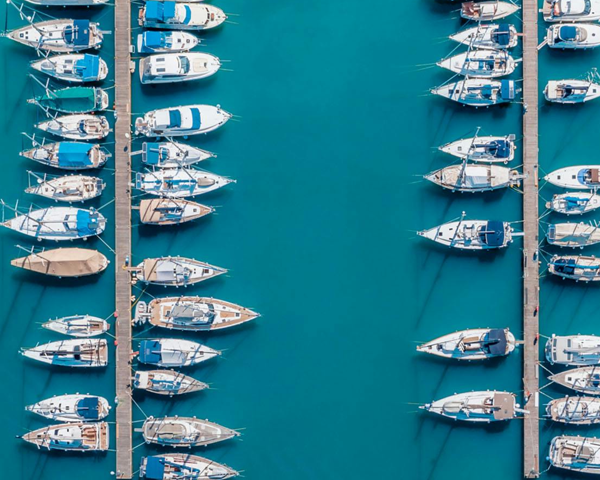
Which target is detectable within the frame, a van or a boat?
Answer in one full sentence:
The one in the frame is a boat.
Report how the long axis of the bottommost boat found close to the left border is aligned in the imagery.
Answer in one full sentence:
What the image shows is the bottommost boat found close to the left border lying from side to side.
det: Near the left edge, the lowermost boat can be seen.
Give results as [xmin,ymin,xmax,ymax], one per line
[10,421,118,453]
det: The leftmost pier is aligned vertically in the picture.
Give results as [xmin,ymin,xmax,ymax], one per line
[115,0,133,479]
